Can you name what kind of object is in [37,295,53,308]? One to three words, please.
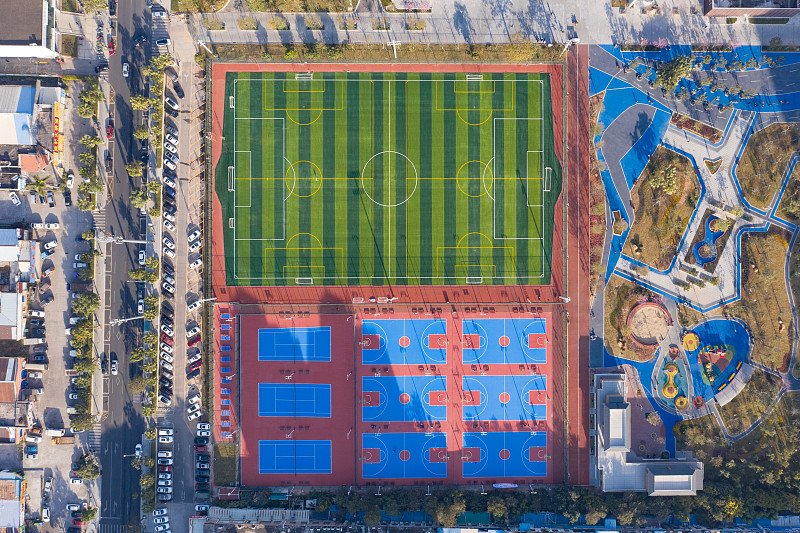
vehicle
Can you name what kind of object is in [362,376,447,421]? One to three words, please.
basketball court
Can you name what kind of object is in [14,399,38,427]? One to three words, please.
building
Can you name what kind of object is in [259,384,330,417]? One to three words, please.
tennis court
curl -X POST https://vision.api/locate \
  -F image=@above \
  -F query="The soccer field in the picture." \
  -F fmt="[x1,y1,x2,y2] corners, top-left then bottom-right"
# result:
[216,72,562,285]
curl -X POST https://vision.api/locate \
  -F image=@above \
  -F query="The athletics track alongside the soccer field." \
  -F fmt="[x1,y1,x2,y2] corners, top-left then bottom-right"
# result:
[568,45,590,488]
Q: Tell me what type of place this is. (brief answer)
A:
sports ground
